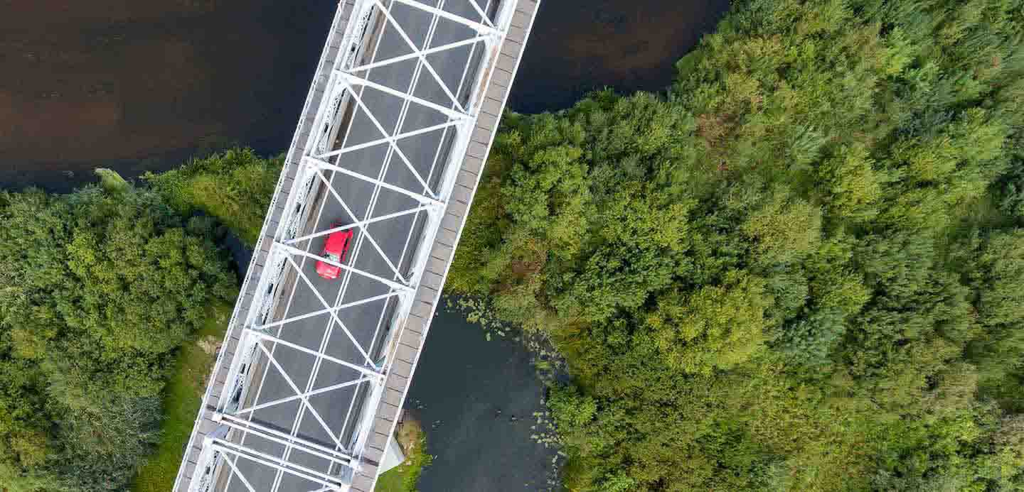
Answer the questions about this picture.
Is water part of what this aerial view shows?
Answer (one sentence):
Yes, water shows up in the scene.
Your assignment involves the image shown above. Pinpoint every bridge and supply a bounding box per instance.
[172,0,542,492]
